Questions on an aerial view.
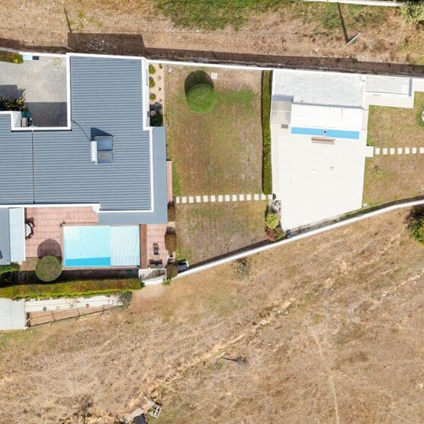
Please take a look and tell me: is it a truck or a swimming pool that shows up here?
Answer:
swimming pool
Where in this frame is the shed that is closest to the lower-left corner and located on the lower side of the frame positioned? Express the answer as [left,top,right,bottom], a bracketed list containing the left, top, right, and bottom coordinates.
[0,297,31,330]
